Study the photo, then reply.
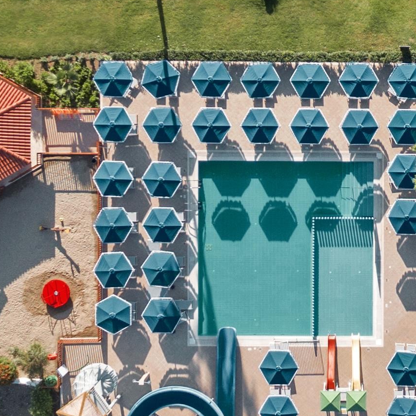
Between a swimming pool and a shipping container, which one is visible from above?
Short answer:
swimming pool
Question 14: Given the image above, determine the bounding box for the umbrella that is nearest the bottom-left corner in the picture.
[97,295,133,336]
